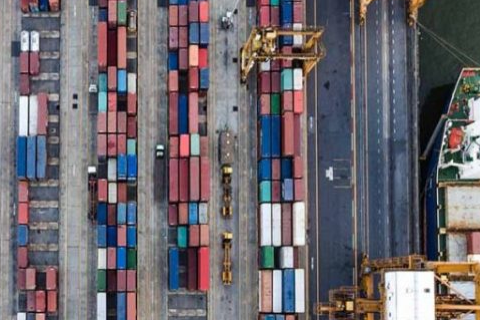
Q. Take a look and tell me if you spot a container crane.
Yes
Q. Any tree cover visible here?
No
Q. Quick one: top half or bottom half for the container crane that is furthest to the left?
top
